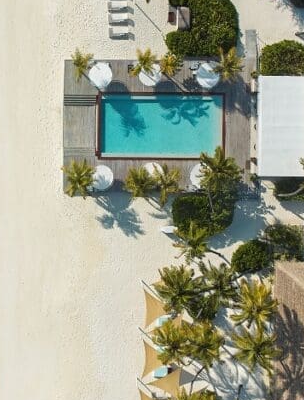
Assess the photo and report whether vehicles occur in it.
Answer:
No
